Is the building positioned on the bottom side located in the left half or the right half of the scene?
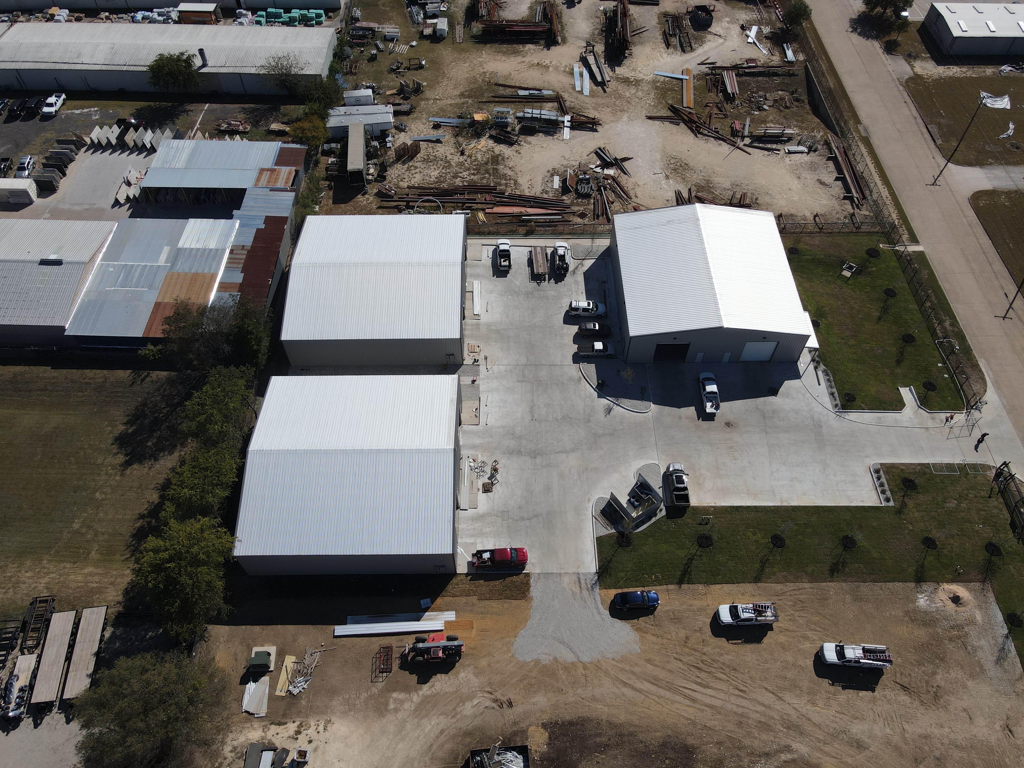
left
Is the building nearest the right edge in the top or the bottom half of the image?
top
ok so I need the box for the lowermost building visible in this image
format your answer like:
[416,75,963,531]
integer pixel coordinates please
[231,373,462,577]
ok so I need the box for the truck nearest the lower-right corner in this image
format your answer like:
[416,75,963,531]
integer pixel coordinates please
[820,638,894,669]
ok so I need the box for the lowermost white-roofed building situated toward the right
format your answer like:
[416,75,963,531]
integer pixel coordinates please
[609,202,819,364]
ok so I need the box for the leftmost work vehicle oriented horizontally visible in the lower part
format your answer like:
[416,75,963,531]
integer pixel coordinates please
[394,634,465,667]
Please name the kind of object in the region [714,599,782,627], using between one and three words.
truck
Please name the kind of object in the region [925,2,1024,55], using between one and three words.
building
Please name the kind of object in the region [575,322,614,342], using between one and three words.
car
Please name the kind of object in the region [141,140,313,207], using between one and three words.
shed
